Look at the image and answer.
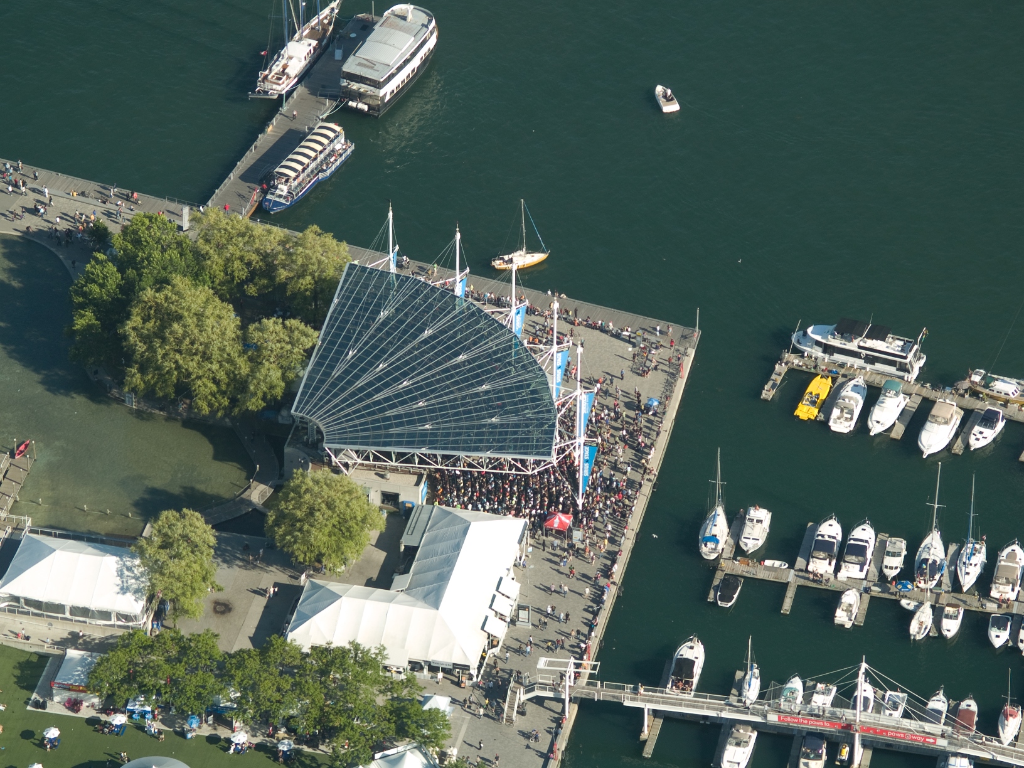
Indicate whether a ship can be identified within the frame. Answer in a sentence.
Yes, a ship appears in the view.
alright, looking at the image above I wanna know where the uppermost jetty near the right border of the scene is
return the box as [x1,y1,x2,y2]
[762,354,1024,466]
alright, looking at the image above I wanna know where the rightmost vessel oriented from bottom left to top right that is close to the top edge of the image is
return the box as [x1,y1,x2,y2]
[337,4,432,120]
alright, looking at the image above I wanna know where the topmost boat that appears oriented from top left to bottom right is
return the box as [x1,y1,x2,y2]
[656,81,679,116]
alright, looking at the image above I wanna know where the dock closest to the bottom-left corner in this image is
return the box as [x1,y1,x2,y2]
[0,435,37,516]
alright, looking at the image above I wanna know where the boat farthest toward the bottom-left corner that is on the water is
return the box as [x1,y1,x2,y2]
[15,436,30,458]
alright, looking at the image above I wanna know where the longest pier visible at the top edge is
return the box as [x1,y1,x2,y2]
[207,5,389,217]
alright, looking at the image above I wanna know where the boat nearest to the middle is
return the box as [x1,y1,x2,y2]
[491,202,550,273]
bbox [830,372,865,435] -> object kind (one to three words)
boat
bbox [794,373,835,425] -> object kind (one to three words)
boat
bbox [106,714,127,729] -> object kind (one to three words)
umbrella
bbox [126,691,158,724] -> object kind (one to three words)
tent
